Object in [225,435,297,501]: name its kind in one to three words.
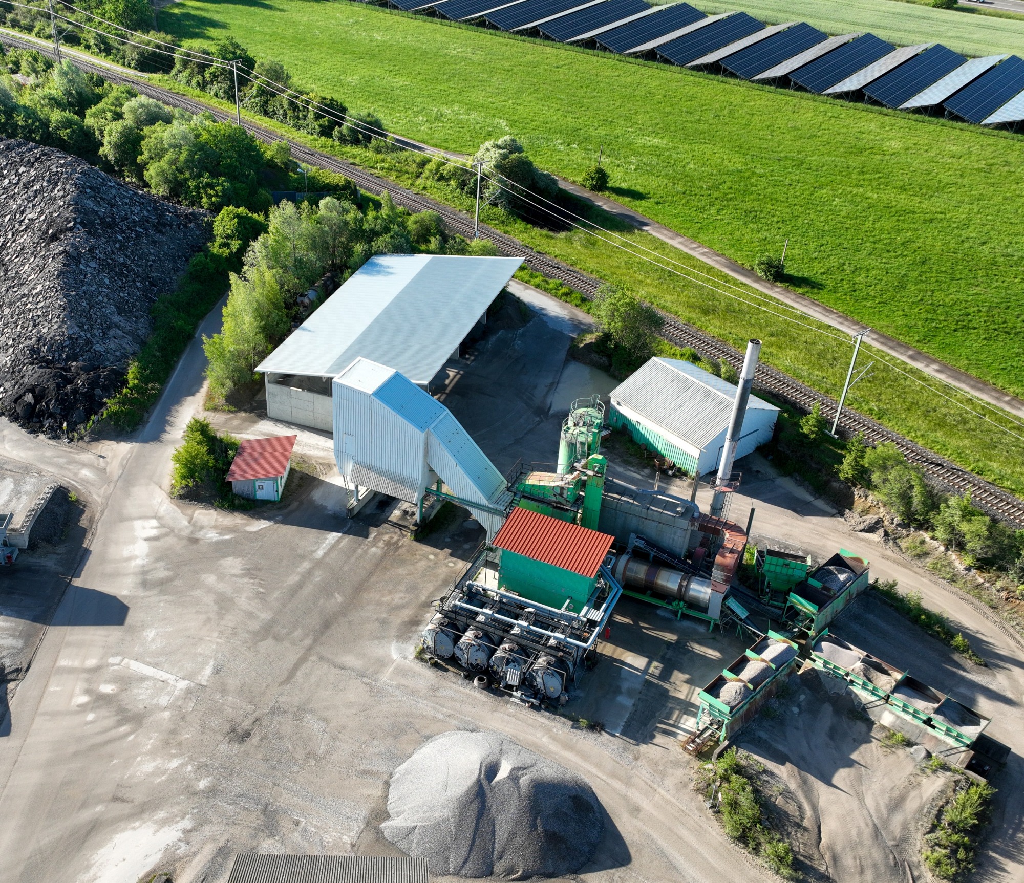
shed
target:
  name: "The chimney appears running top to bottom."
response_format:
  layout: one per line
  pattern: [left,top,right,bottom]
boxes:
[705,337,764,547]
